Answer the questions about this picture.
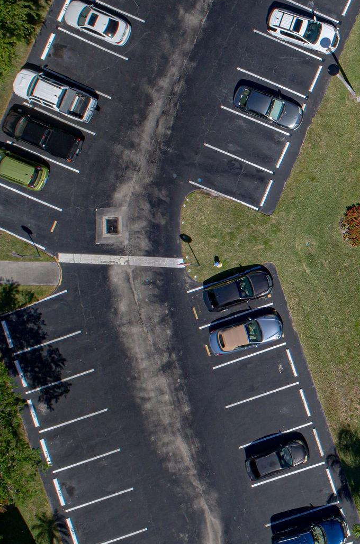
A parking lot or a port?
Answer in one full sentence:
This looks like a parking lot.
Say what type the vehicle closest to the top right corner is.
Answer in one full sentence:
From above, the vehicle closest to the top right corner can be identified as an automobile.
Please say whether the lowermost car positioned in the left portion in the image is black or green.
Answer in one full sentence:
The lowermost car positioned in the left portion is green.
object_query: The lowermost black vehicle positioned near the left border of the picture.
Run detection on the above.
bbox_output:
[2,108,86,162]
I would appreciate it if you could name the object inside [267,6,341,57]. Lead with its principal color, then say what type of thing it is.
white car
